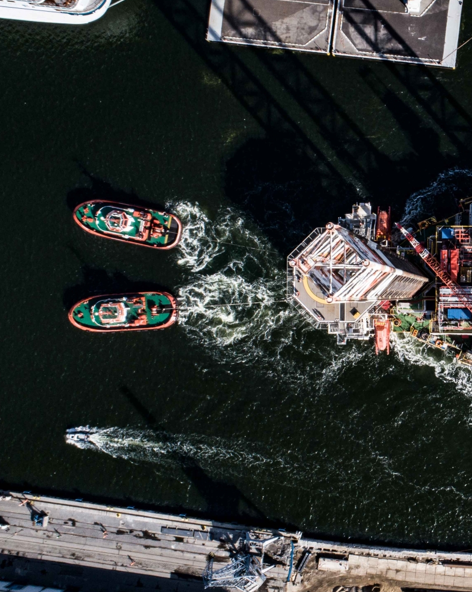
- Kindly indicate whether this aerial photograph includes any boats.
Yes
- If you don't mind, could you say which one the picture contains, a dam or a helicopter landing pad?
helicopter landing pad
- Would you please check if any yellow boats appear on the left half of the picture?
No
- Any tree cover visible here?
No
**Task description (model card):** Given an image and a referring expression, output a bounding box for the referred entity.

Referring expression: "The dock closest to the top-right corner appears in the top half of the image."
[332,0,463,71]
